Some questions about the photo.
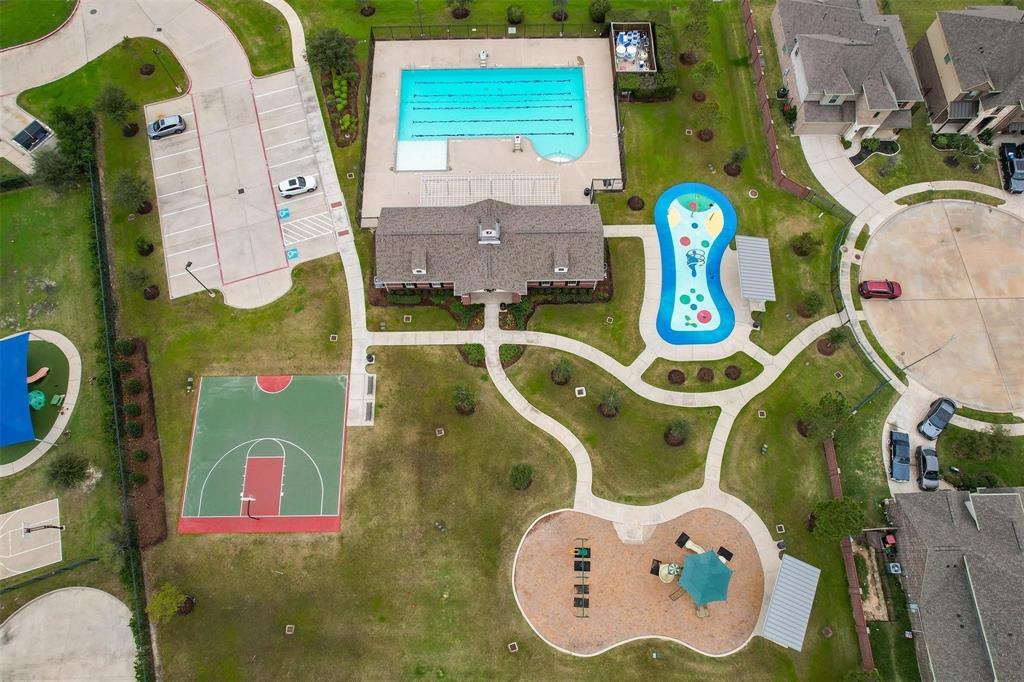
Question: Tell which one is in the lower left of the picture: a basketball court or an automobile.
basketball court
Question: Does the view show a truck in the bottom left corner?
No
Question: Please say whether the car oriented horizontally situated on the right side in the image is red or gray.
red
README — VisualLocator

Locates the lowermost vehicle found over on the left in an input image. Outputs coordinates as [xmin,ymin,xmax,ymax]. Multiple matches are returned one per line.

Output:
[277,175,318,199]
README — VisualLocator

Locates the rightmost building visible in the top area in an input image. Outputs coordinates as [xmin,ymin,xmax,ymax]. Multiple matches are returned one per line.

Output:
[913,10,1024,137]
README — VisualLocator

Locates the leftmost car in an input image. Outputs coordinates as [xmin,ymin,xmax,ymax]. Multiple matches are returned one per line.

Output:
[147,114,187,140]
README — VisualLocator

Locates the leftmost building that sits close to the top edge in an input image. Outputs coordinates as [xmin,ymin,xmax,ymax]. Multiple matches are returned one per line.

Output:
[772,0,924,141]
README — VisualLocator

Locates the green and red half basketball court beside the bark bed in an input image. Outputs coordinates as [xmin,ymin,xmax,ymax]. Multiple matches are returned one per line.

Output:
[178,374,349,533]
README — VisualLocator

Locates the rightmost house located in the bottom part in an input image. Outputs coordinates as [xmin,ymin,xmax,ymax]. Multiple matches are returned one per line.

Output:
[887,483,1024,682]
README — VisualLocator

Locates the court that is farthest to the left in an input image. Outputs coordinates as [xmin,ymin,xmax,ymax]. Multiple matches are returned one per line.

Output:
[0,499,62,579]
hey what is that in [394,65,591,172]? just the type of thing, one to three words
swimming pool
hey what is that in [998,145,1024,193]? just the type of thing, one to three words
truck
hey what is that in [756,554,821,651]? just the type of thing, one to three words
building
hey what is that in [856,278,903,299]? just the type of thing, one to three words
car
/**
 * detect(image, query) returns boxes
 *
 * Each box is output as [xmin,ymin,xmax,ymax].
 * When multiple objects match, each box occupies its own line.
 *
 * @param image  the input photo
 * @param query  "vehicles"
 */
[916,444,943,491]
[886,429,914,483]
[147,114,187,140]
[277,175,318,199]
[856,278,903,299]
[916,396,959,441]
[998,145,1024,193]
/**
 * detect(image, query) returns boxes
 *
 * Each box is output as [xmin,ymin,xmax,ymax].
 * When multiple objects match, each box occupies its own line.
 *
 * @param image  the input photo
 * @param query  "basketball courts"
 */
[0,499,62,579]
[178,374,349,533]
